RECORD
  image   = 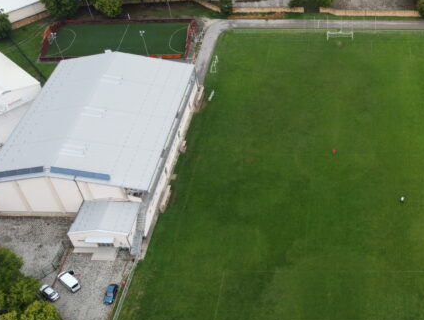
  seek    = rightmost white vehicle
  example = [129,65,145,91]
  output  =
[56,270,80,292]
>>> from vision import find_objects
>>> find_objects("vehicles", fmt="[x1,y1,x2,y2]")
[38,284,59,303]
[56,270,80,292]
[101,283,119,305]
